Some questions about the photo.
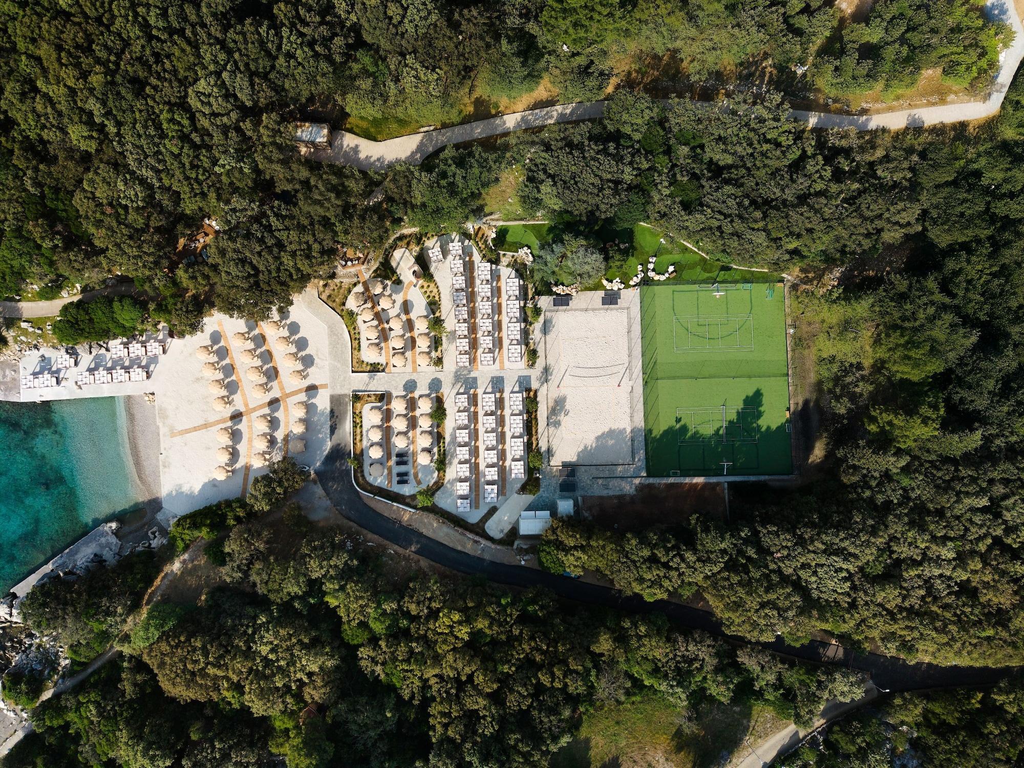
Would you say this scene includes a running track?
No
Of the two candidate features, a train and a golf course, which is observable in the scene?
golf course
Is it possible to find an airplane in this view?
No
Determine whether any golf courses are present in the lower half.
No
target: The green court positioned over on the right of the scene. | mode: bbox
[640,283,793,477]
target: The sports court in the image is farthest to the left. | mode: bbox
[545,308,634,467]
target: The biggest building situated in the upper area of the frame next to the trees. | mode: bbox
[295,123,332,148]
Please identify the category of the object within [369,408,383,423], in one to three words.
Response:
umbrella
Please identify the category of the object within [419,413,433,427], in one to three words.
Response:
umbrella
